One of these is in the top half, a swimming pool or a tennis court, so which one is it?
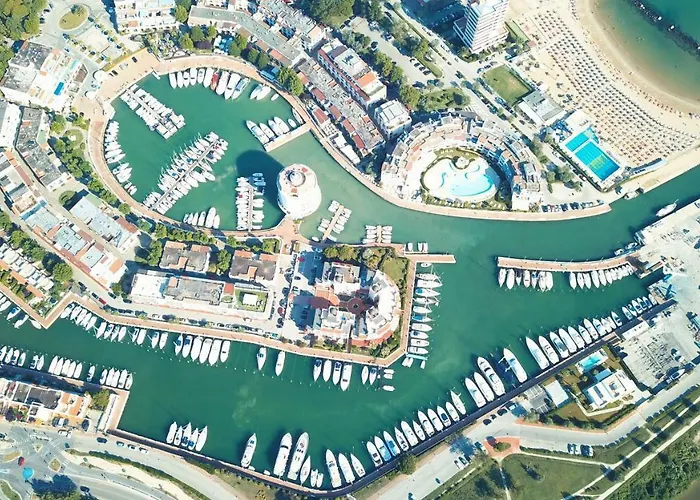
swimming pool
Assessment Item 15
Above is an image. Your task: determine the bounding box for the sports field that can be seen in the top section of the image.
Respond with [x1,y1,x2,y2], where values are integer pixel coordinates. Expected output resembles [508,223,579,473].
[483,65,530,105]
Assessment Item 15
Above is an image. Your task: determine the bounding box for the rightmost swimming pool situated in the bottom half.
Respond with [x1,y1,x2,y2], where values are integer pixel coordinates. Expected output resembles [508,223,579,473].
[578,350,601,369]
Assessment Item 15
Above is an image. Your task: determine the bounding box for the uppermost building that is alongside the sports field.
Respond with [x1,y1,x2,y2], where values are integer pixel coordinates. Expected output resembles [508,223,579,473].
[453,0,509,55]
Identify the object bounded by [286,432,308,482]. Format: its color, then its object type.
white boat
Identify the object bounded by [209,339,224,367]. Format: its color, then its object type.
white boat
